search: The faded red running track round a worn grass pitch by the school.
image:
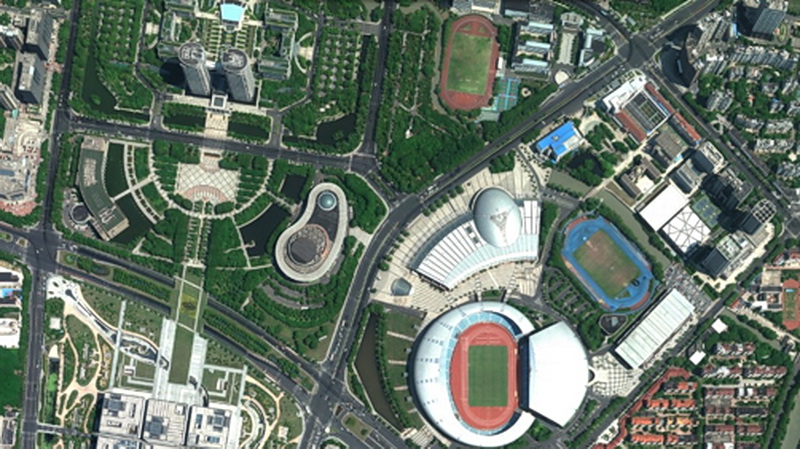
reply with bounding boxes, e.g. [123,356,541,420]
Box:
[441,14,496,110]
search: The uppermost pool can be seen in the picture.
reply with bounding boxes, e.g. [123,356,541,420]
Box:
[219,0,252,26]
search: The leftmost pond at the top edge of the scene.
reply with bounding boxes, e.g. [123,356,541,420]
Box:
[82,0,149,121]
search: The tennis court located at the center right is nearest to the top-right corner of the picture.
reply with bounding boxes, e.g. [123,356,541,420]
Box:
[692,195,720,228]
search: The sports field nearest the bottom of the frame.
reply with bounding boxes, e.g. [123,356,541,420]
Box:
[468,346,507,406]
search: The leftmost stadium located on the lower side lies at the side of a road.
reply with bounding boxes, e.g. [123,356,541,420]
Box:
[413,298,534,447]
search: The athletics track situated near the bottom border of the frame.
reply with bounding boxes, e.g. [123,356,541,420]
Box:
[450,321,519,429]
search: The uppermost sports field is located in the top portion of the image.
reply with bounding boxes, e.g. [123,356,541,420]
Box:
[446,31,491,95]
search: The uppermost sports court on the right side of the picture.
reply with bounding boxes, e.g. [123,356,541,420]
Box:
[492,78,520,110]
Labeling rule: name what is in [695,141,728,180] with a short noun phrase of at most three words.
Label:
building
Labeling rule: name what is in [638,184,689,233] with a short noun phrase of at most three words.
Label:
building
